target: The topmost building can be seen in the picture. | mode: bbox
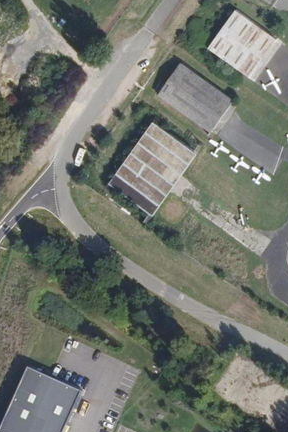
[208,10,288,84]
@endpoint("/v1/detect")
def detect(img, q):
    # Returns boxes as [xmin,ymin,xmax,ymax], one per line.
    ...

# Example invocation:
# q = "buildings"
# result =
[0,367,85,432]
[110,123,196,218]
[158,64,232,135]
[208,10,288,84]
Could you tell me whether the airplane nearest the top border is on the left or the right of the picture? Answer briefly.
right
